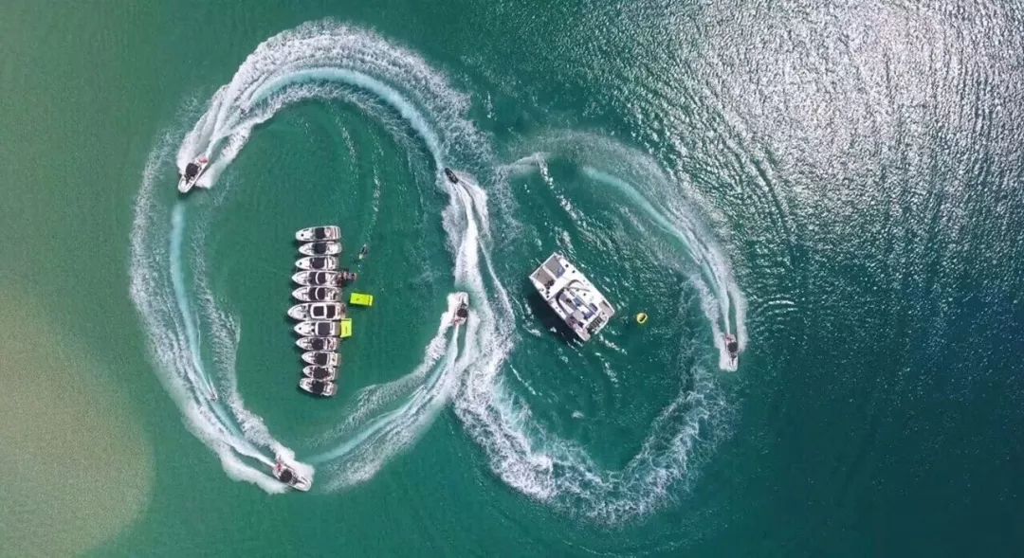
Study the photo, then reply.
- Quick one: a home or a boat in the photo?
boat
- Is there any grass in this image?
No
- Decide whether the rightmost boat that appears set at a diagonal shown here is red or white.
white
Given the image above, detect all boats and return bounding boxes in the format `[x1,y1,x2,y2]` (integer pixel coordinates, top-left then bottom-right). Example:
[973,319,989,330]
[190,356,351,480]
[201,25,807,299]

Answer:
[444,168,460,185]
[293,225,341,241]
[293,256,339,271]
[296,241,342,256]
[285,302,346,321]
[175,153,210,191]
[299,352,340,368]
[293,337,338,353]
[272,464,310,493]
[530,252,616,340]
[725,334,743,371]
[290,270,339,286]
[301,366,338,380]
[292,321,341,338]
[297,378,338,397]
[290,286,342,302]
